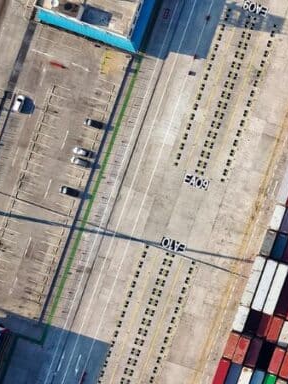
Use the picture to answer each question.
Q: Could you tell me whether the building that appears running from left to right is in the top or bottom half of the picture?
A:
top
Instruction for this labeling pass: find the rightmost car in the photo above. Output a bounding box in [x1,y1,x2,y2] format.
[83,119,103,131]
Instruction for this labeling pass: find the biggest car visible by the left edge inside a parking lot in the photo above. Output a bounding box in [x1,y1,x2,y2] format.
[9,93,25,113]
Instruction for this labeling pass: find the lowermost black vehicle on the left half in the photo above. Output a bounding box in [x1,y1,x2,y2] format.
[59,185,78,197]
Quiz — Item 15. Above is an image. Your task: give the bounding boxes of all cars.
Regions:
[83,119,103,131]
[9,93,25,113]
[59,185,78,197]
[69,155,88,167]
[71,144,90,157]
